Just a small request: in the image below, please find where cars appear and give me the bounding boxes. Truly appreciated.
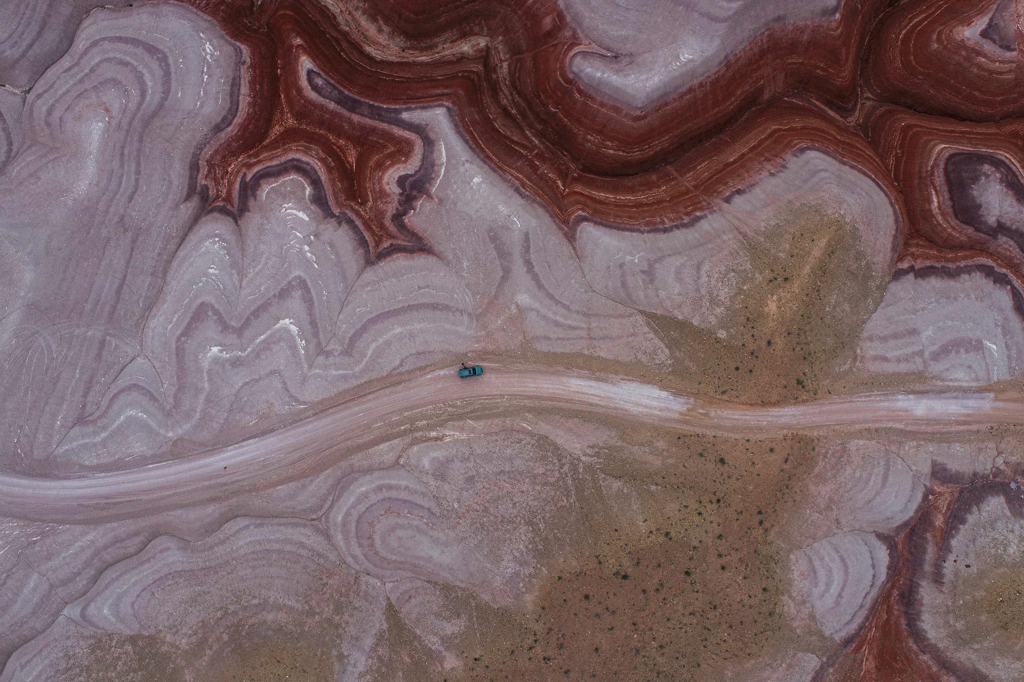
[457,366,482,379]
